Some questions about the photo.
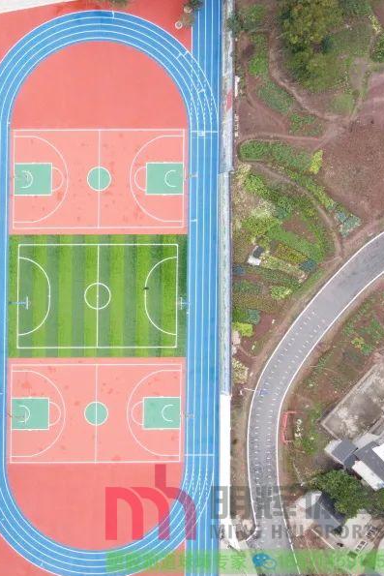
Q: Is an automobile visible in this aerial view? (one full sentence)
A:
No, there appears to be no automobile in this shot.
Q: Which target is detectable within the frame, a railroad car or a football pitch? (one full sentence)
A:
The one in the frame is a football pitch.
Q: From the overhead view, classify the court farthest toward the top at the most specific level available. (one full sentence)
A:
Specifically, the court farthest toward the top is a basketball court.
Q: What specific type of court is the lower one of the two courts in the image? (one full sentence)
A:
The lower one of the two courts is a basketball court.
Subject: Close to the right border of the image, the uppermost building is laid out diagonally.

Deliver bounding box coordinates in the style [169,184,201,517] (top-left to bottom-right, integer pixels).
[319,350,384,441]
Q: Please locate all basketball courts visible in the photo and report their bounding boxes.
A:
[6,357,186,464]
[8,128,188,235]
